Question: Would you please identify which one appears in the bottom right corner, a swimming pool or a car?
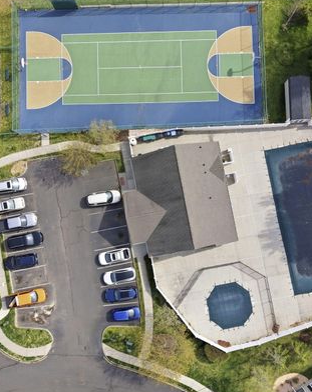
swimming pool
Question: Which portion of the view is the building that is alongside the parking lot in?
center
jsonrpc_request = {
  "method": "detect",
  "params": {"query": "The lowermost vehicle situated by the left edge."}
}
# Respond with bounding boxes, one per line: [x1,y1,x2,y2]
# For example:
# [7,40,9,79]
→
[4,289,46,307]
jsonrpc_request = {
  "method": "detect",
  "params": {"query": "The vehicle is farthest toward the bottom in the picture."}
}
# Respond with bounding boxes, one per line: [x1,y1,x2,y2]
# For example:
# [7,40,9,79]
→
[112,306,141,322]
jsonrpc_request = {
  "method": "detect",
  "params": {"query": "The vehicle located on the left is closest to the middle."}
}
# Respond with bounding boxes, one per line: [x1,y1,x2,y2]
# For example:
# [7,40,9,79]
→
[88,189,121,206]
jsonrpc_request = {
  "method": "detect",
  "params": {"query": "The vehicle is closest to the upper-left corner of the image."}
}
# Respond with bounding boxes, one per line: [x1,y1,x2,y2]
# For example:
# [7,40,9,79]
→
[0,176,28,193]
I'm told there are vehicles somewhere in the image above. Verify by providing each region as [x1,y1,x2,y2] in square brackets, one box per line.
[5,231,44,249]
[104,268,136,285]
[0,214,39,232]
[112,306,141,322]
[4,289,46,307]
[99,249,131,265]
[0,176,28,193]
[6,253,38,271]
[88,189,121,206]
[105,287,138,304]
[0,197,26,213]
